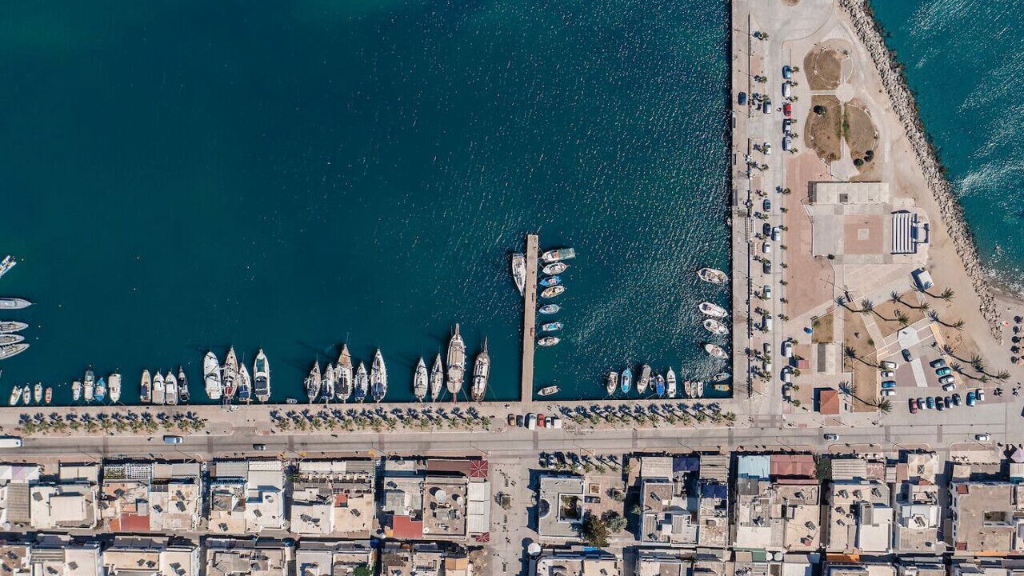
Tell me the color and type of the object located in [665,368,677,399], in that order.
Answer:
white boat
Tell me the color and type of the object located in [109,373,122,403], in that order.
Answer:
white boat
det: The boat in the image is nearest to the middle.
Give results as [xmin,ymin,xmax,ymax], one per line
[512,253,526,296]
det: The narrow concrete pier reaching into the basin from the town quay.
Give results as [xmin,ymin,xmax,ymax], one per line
[521,234,539,402]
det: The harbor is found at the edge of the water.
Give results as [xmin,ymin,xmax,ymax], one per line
[0,0,749,413]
